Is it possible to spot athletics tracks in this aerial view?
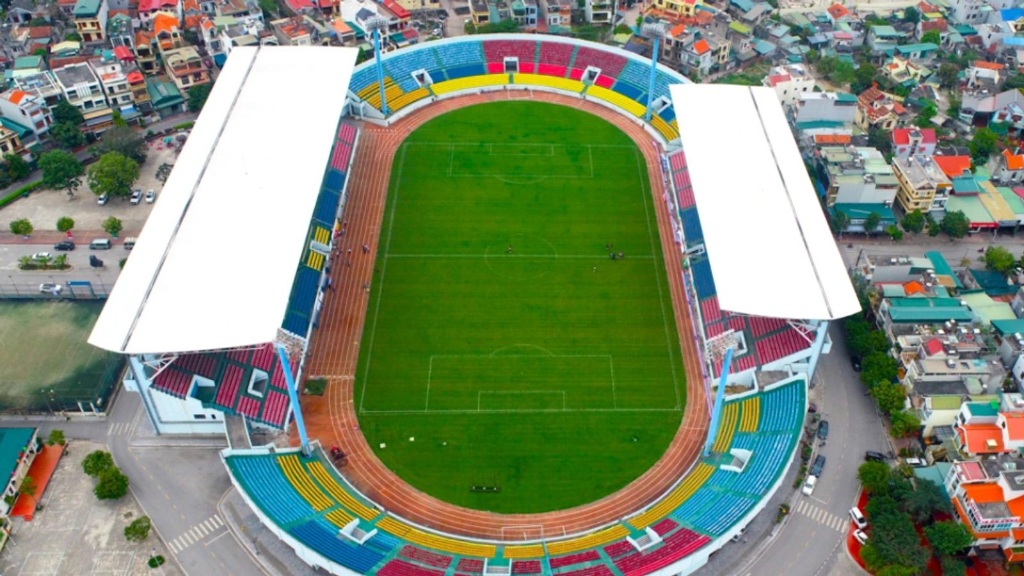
Yes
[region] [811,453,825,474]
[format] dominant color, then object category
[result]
blue car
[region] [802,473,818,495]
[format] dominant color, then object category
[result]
white car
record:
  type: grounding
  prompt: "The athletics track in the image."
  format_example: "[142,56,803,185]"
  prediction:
[283,89,718,542]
